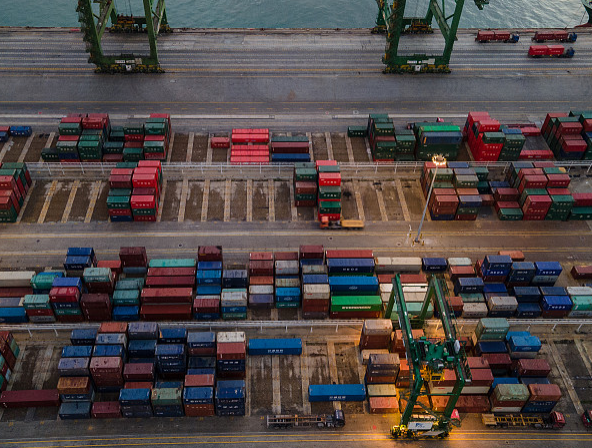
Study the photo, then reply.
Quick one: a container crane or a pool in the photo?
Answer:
container crane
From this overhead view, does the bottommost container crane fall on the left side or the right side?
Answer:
right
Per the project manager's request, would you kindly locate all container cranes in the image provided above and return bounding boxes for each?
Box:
[69,0,173,71]
[369,0,487,72]
[369,273,471,435]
